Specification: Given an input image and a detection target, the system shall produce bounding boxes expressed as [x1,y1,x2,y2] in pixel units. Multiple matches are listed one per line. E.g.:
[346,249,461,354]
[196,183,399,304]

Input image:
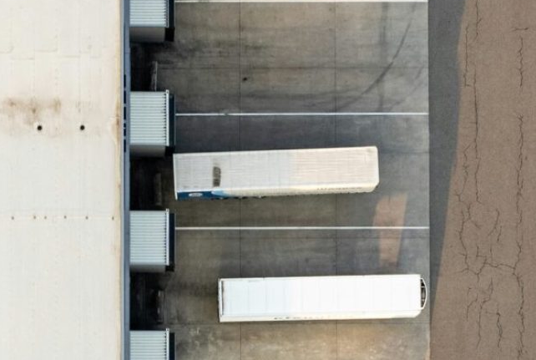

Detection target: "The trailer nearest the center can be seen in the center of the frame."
[169,145,378,199]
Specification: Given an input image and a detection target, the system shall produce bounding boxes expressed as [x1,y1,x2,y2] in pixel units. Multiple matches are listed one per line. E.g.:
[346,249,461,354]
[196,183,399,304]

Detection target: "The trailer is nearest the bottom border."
[212,274,427,320]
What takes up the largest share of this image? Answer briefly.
paved ground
